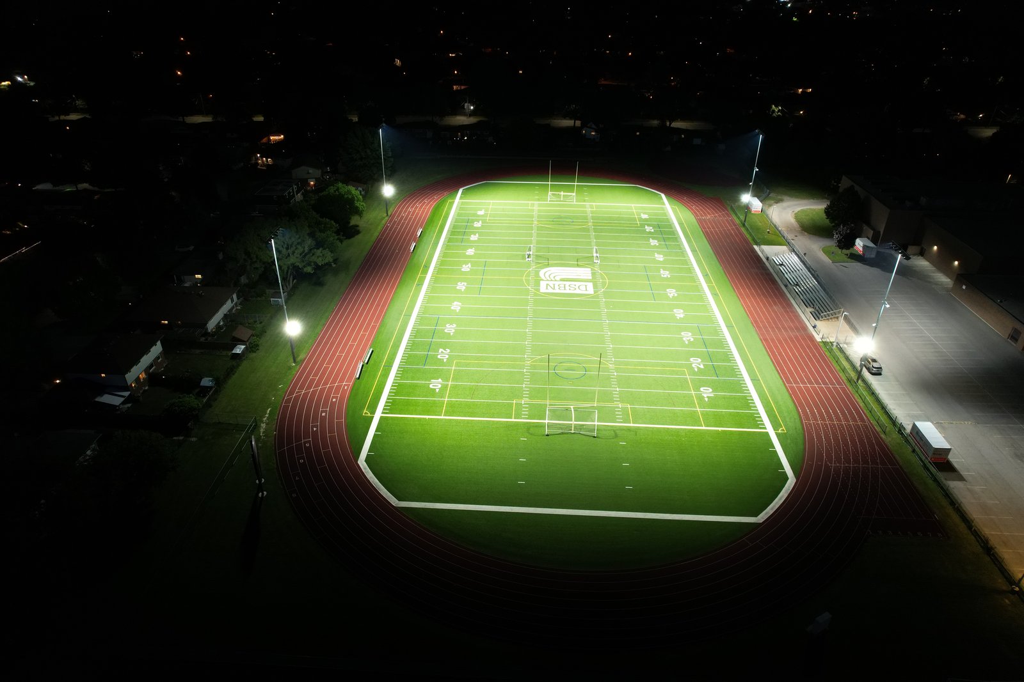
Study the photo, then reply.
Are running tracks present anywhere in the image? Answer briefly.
Yes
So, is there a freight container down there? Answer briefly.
Yes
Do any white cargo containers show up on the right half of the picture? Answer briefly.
Yes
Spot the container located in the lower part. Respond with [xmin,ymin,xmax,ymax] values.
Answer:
[910,421,954,462]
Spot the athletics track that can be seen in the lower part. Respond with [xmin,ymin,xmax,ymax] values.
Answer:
[271,165,954,663]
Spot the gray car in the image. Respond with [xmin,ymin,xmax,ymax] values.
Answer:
[860,357,884,373]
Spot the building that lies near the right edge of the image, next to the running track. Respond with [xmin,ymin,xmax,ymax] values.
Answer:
[836,176,1024,356]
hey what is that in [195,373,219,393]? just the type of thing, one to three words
shed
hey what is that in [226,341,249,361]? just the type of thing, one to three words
shed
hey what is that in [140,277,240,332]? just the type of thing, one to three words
house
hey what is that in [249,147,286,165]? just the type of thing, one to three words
house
